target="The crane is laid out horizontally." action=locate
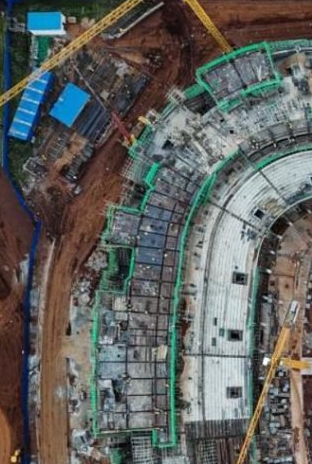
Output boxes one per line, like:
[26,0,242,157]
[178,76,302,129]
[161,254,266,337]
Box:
[0,0,241,109]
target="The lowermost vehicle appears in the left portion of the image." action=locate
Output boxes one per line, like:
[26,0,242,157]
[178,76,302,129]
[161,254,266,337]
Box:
[9,449,21,464]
